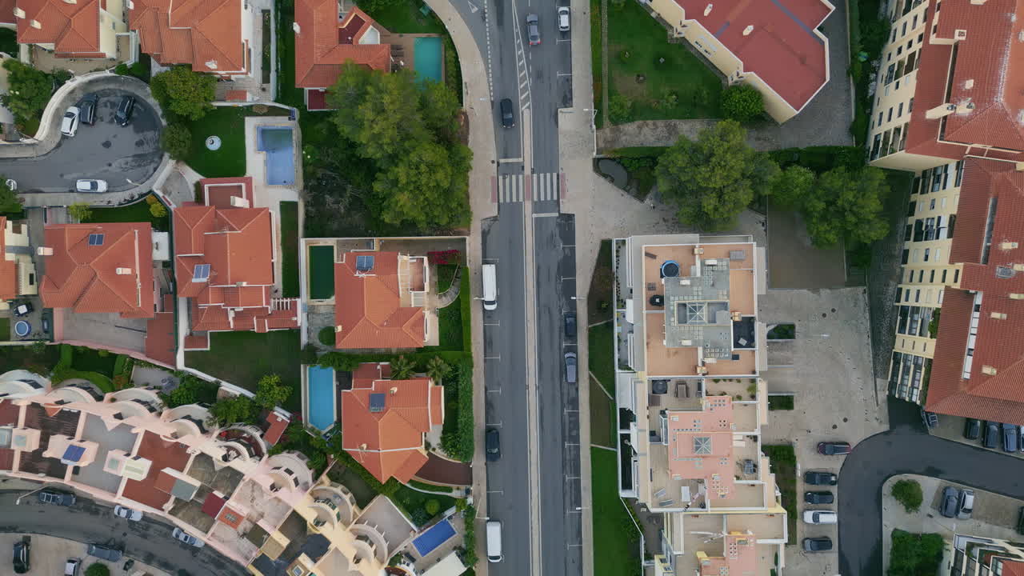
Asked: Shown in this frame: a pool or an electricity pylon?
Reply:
pool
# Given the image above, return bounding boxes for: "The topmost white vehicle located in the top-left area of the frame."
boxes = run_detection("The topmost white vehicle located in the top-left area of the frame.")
[64,107,82,137]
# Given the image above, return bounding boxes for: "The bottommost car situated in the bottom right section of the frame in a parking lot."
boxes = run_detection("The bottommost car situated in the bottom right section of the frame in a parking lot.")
[802,536,831,551]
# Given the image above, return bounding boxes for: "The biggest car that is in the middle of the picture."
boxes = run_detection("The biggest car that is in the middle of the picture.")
[481,264,499,309]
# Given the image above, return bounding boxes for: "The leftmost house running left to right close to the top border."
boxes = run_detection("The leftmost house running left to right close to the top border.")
[13,0,144,73]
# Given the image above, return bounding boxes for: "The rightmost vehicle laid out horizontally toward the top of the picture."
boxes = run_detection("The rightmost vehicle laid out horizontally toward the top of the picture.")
[78,178,109,193]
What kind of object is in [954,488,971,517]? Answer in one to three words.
car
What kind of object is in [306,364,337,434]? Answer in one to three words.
swimming pool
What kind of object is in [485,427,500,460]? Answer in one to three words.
car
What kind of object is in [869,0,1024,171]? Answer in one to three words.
building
